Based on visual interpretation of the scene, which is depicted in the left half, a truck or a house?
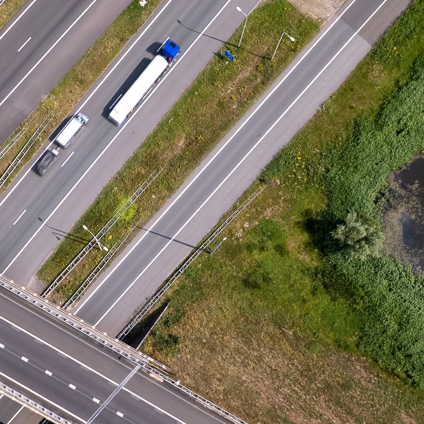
truck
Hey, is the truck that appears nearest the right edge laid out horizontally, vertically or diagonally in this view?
diagonally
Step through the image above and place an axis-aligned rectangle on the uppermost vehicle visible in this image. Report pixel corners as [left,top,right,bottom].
[107,41,183,130]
